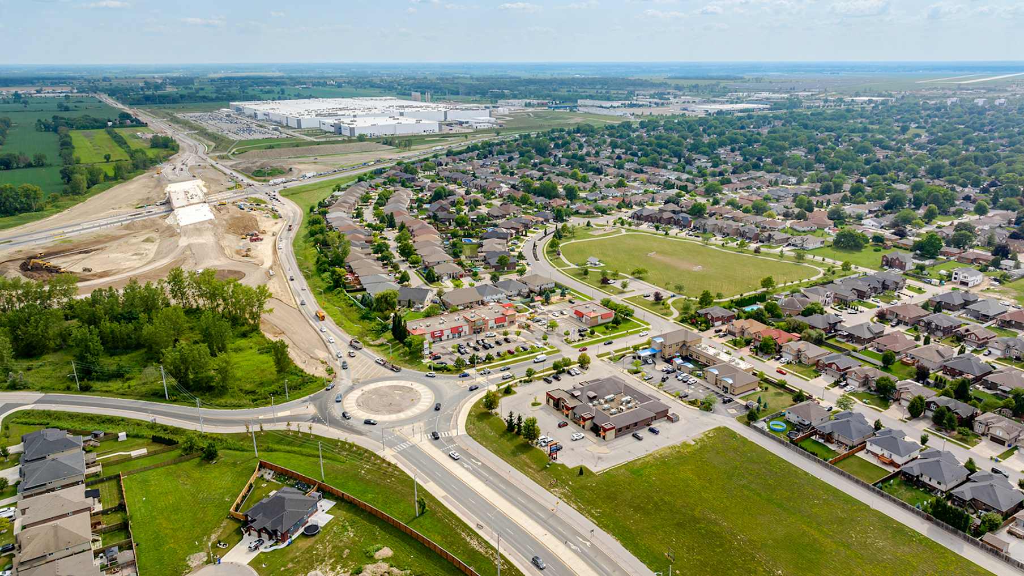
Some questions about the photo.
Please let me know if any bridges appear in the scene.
Yes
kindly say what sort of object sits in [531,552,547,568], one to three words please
car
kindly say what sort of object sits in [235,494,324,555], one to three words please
house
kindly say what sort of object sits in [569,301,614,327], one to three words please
building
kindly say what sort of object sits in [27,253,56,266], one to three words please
vehicle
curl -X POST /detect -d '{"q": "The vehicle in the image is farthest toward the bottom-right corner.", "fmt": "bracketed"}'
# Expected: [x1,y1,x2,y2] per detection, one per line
[990,462,1011,476]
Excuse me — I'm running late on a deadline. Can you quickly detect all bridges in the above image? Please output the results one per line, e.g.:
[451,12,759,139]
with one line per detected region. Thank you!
[165,179,215,227]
